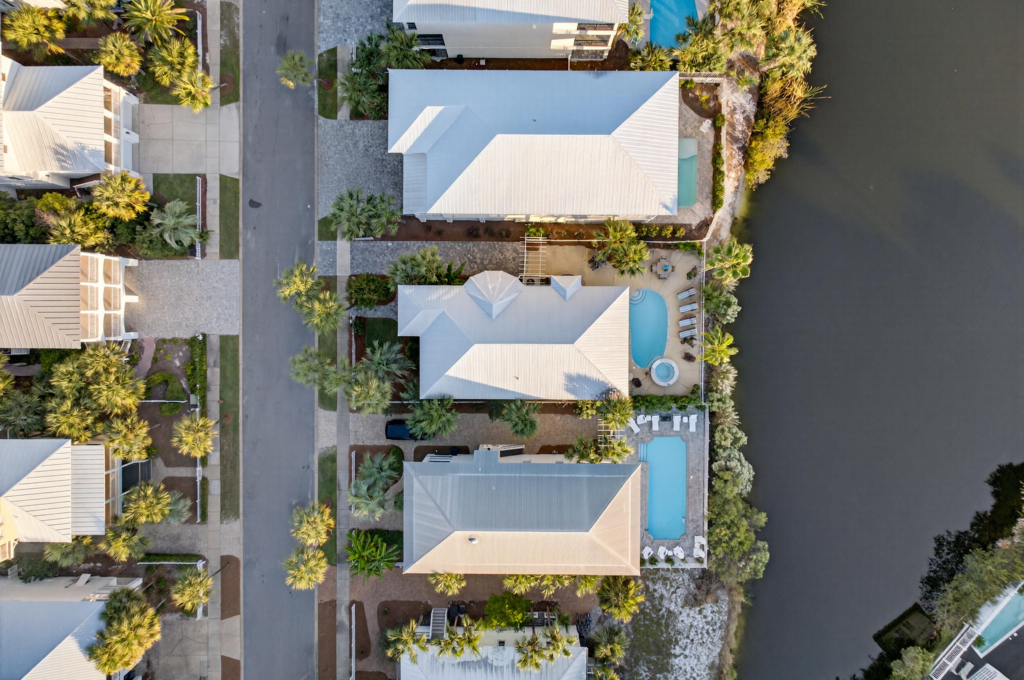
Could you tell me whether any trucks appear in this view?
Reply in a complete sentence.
No, I can see no truck in this picture.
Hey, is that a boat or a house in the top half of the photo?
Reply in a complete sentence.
The one visible in the top half of the photo is a house.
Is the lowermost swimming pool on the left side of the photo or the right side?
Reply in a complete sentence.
The lowermost swimming pool is on the right side of the image.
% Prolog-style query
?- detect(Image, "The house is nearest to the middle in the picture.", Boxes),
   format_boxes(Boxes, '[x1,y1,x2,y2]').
[397,270,630,400]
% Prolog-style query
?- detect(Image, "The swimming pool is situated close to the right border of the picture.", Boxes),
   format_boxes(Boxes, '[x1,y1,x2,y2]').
[980,585,1024,654]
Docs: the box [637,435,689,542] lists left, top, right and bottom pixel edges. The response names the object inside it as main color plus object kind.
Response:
blue swimming pool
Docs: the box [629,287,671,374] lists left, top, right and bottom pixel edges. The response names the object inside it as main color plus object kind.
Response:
blue swimming pool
